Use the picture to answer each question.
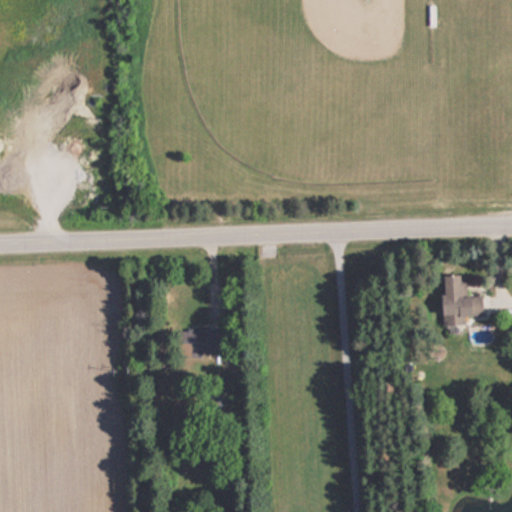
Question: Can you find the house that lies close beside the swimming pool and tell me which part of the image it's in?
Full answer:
The house that lies close beside the swimming pool is in the right part of the image.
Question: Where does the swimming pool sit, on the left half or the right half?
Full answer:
The swimming pool appears in the right half of the scene.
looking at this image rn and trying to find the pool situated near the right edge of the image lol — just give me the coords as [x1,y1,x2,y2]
[470,327,497,346]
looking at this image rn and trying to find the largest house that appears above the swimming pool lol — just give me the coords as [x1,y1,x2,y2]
[444,274,484,328]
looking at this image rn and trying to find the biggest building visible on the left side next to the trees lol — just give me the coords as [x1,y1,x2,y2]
[184,329,218,358]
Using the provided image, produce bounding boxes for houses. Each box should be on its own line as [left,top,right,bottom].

[444,274,484,328]
[184,329,218,358]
